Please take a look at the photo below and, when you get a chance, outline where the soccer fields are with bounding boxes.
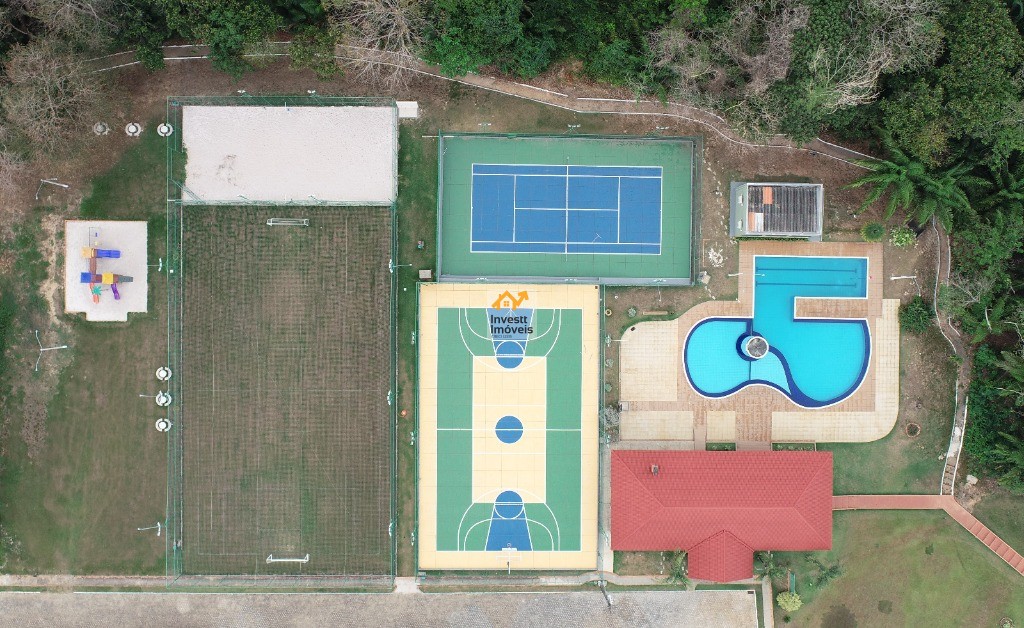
[181,204,398,577]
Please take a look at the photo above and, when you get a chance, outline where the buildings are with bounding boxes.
[611,450,833,583]
[737,183,823,238]
[397,100,419,120]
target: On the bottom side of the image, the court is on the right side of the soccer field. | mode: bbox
[417,284,601,572]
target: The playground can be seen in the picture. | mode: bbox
[81,247,133,302]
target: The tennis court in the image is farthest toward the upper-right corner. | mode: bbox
[439,134,695,286]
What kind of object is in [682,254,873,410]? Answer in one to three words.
swimming pool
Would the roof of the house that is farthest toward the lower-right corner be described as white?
No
